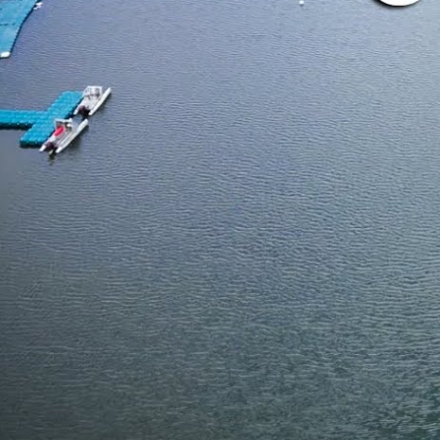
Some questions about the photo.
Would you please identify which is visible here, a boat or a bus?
boat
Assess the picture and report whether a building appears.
No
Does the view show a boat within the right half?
No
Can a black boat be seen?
No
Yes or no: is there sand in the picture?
No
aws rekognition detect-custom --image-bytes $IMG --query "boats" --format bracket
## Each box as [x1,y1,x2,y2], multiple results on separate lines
[70,80,111,119]
[38,116,88,156]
